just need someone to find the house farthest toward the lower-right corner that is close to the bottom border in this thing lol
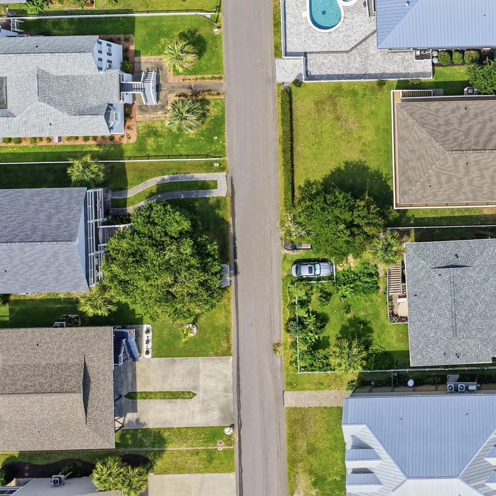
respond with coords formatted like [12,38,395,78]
[342,388,496,496]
